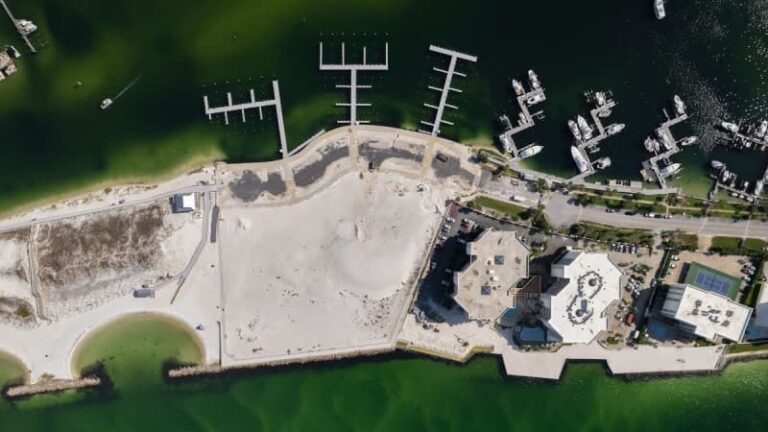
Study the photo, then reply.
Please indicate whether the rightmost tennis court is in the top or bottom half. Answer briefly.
bottom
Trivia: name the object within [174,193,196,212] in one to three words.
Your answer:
building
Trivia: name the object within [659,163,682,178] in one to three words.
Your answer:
boat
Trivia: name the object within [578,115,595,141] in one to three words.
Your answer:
boat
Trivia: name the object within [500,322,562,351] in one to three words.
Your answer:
swimming pool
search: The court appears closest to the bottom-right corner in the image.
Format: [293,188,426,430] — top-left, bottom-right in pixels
[685,261,744,302]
